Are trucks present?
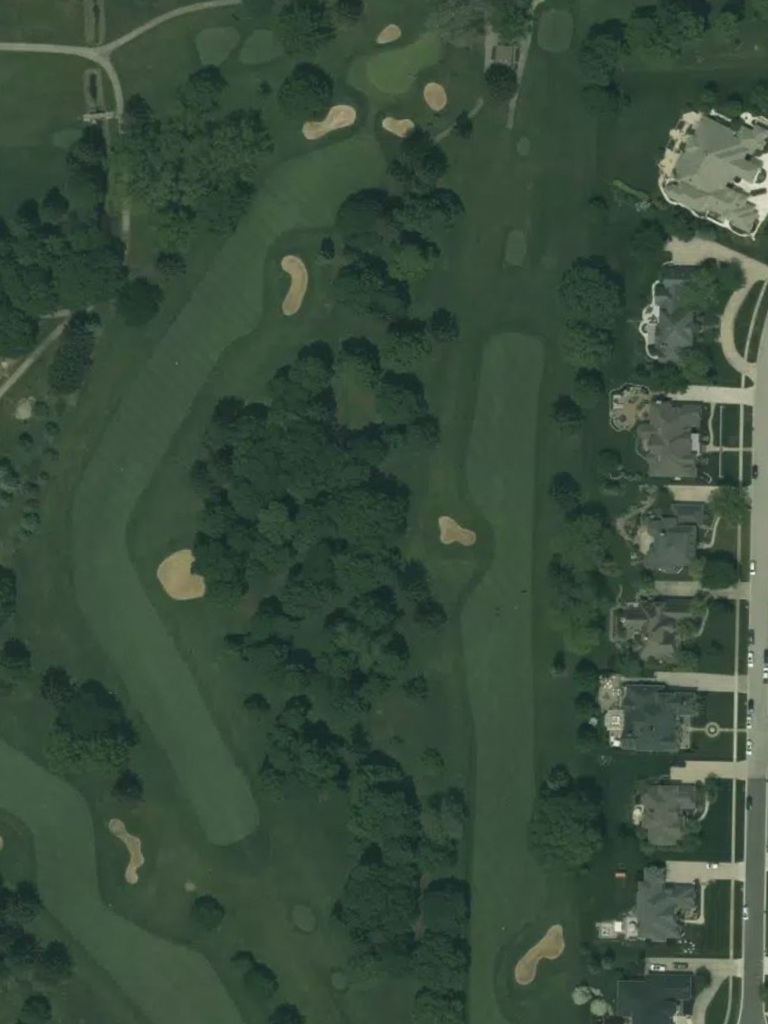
No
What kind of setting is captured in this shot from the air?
golf course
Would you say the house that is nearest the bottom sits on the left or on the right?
right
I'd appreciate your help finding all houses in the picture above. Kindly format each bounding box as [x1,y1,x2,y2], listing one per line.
[664,117,768,230]
[637,867,698,942]
[618,975,693,1024]
[641,784,697,847]
[622,685,699,751]
[620,595,697,662]
[648,503,706,572]
[653,265,701,362]
[636,400,702,477]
